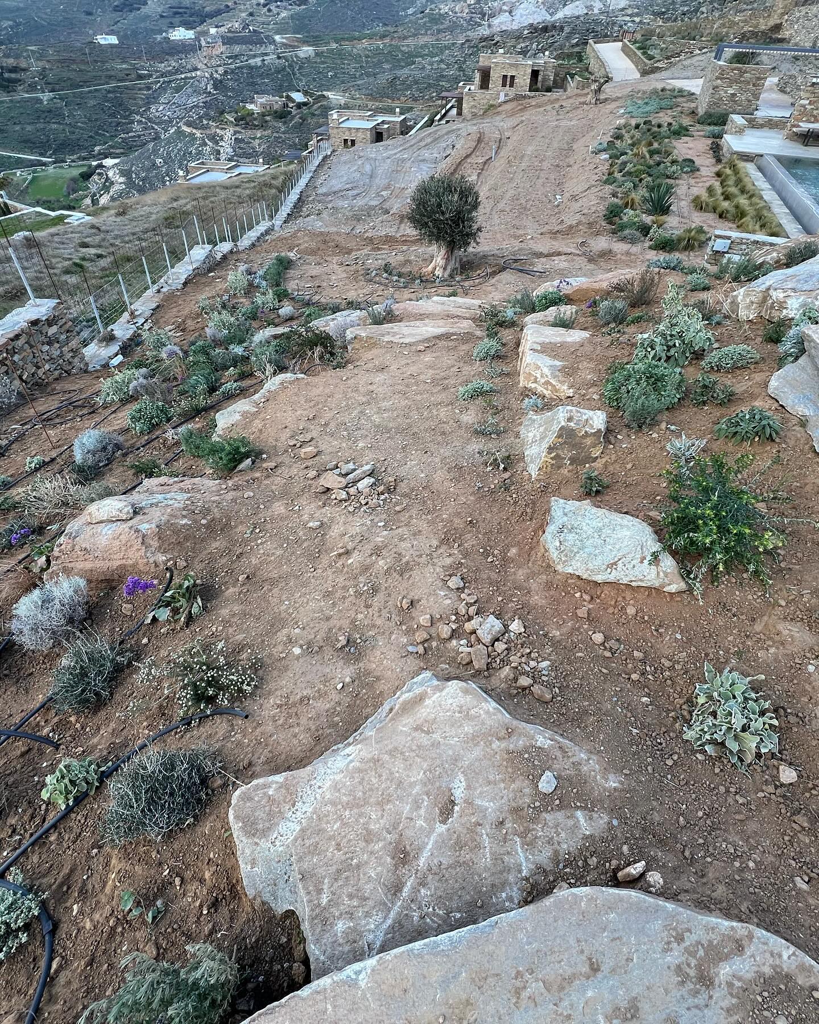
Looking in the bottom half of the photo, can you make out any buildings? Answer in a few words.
No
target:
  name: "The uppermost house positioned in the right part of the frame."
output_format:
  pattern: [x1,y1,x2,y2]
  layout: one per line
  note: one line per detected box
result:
[473,47,557,94]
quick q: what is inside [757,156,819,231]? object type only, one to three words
swimming pool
